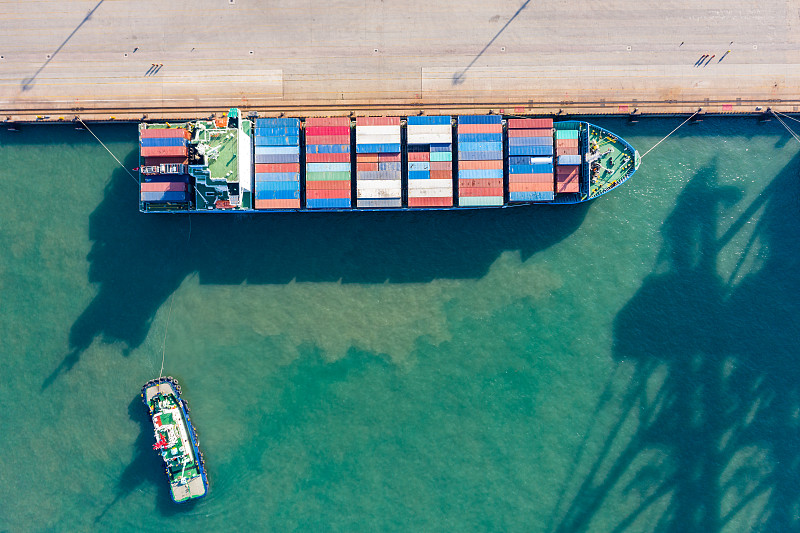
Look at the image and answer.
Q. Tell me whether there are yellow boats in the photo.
No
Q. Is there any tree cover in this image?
No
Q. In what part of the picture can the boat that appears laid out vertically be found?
bottom left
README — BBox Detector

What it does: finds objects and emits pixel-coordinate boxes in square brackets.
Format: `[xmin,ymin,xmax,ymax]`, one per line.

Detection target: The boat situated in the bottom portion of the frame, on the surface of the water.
[144,375,209,500]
